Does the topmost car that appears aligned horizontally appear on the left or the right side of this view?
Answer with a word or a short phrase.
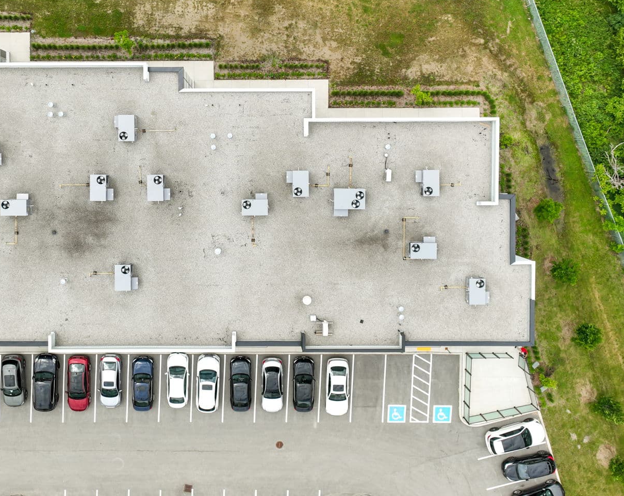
right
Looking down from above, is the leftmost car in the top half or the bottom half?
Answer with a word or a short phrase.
bottom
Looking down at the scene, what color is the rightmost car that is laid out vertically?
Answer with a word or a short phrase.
white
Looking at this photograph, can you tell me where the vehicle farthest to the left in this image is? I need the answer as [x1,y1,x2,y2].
[0,355,28,407]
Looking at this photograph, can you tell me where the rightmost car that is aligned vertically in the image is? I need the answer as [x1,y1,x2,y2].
[326,359,351,415]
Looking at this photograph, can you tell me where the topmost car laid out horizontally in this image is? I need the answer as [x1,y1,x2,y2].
[486,422,544,455]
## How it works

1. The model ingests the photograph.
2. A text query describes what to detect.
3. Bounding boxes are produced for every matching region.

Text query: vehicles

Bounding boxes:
[97,355,123,407]
[292,356,318,412]
[502,450,557,484]
[165,353,191,409]
[511,482,565,496]
[195,354,221,412]
[65,356,92,411]
[129,356,155,411]
[0,355,28,407]
[326,359,351,415]
[260,358,285,411]
[486,422,544,455]
[32,354,59,412]
[228,356,254,412]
